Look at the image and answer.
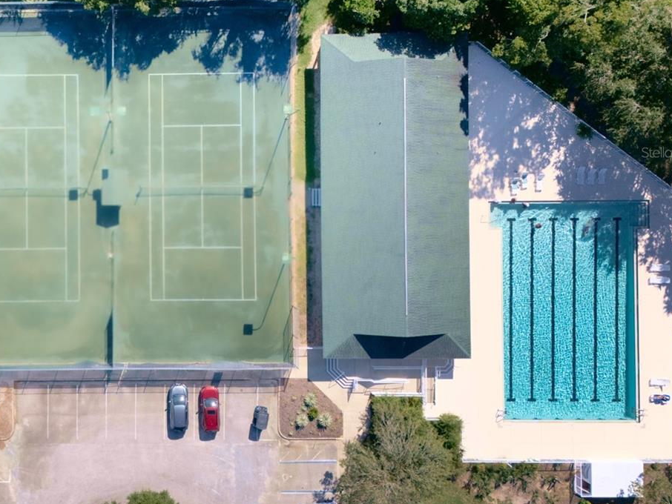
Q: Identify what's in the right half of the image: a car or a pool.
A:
pool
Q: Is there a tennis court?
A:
Yes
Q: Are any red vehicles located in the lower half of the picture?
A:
Yes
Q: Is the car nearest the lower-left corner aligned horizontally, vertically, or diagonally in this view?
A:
vertically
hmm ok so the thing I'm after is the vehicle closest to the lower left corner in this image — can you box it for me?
[167,382,189,431]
